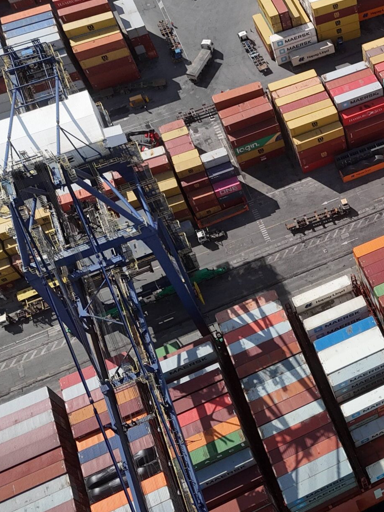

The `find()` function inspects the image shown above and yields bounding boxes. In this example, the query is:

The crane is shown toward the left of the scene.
[0,19,227,512]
